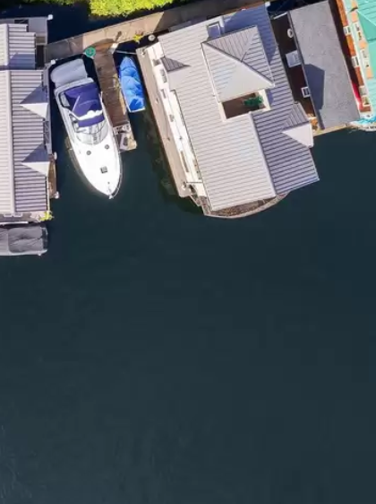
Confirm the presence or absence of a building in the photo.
Yes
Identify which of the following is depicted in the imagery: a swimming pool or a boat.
boat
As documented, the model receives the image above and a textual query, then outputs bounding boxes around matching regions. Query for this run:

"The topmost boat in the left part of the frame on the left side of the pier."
[51,56,89,84]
